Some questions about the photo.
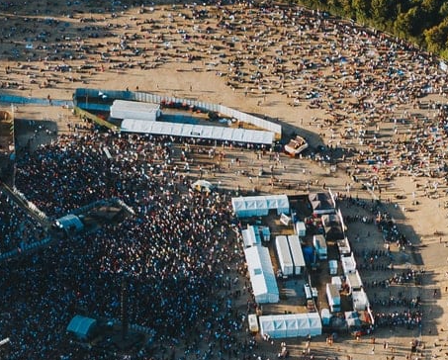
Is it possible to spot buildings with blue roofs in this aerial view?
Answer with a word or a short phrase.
Yes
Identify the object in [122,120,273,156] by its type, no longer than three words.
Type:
tent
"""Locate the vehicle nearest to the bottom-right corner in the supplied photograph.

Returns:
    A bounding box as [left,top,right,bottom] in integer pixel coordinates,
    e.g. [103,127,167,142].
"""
[326,282,341,316]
